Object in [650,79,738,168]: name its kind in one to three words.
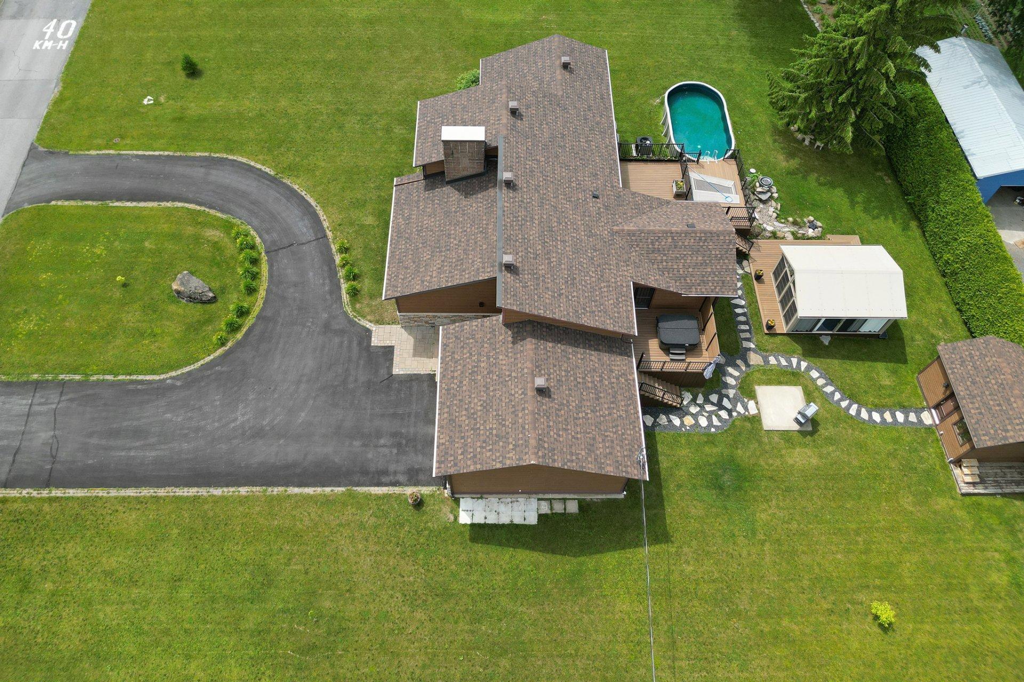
swimming pool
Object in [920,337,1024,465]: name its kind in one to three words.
shed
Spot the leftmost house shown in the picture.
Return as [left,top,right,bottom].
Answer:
[382,35,740,504]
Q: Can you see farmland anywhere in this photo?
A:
No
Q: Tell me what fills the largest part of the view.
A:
grass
